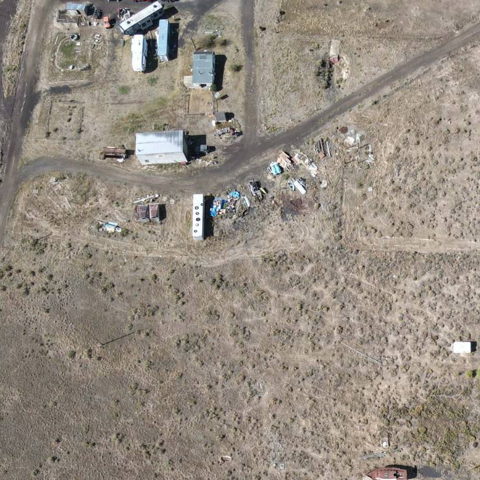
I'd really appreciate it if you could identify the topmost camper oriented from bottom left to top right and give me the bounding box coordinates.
[120,1,166,38]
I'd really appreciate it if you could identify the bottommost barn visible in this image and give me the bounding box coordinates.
[136,127,188,165]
